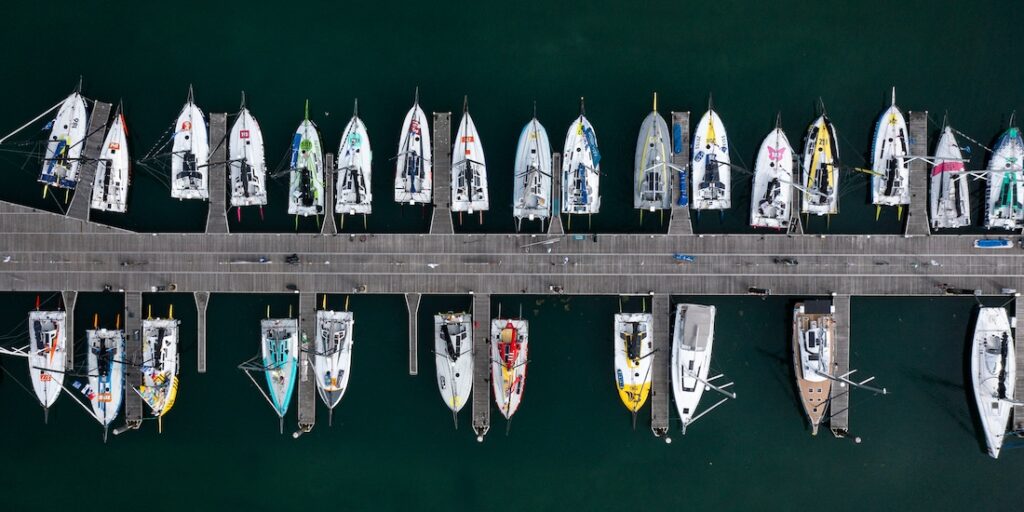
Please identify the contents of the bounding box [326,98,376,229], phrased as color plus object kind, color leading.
white boat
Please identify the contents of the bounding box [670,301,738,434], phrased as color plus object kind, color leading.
white boat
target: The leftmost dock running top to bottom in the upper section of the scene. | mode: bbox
[66,100,114,220]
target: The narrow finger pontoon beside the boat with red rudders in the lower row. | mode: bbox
[61,291,80,370]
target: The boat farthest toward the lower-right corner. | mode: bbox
[968,296,1024,459]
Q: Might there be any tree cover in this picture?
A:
No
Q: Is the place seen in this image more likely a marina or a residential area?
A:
marina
